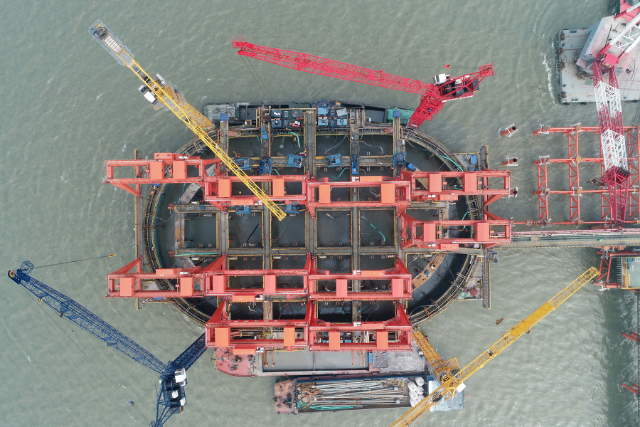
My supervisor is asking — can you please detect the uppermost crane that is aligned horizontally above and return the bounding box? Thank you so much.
[229,24,500,133]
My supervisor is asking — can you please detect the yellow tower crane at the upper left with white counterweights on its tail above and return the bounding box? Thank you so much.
[83,16,288,220]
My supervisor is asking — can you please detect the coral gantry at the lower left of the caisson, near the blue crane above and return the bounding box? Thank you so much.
[105,253,218,304]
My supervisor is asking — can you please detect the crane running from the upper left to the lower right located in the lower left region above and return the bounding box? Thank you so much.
[0,250,210,427]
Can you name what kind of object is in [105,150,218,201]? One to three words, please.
container crane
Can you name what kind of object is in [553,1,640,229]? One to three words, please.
crane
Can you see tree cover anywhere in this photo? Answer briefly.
No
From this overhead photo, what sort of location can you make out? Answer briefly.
port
